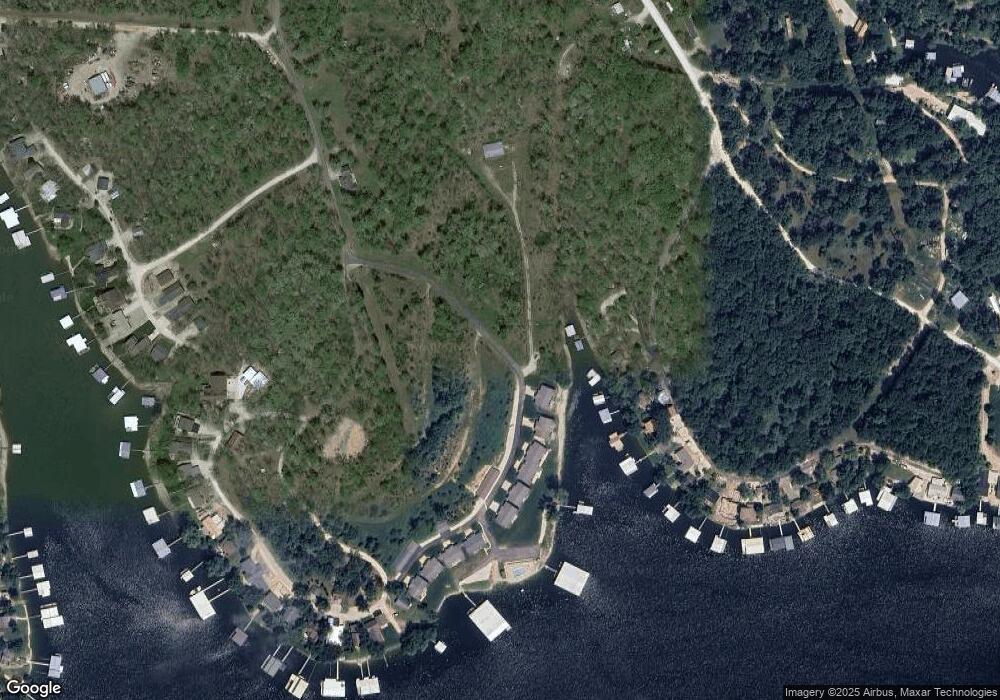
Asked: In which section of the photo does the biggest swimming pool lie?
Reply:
bottom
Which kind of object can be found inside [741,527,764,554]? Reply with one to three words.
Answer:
pier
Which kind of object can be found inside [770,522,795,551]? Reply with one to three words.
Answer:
pier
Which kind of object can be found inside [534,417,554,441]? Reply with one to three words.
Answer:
house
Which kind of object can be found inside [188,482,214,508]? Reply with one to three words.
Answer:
house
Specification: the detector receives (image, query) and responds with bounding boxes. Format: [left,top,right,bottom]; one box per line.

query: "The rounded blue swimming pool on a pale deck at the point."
[506,558,539,580]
